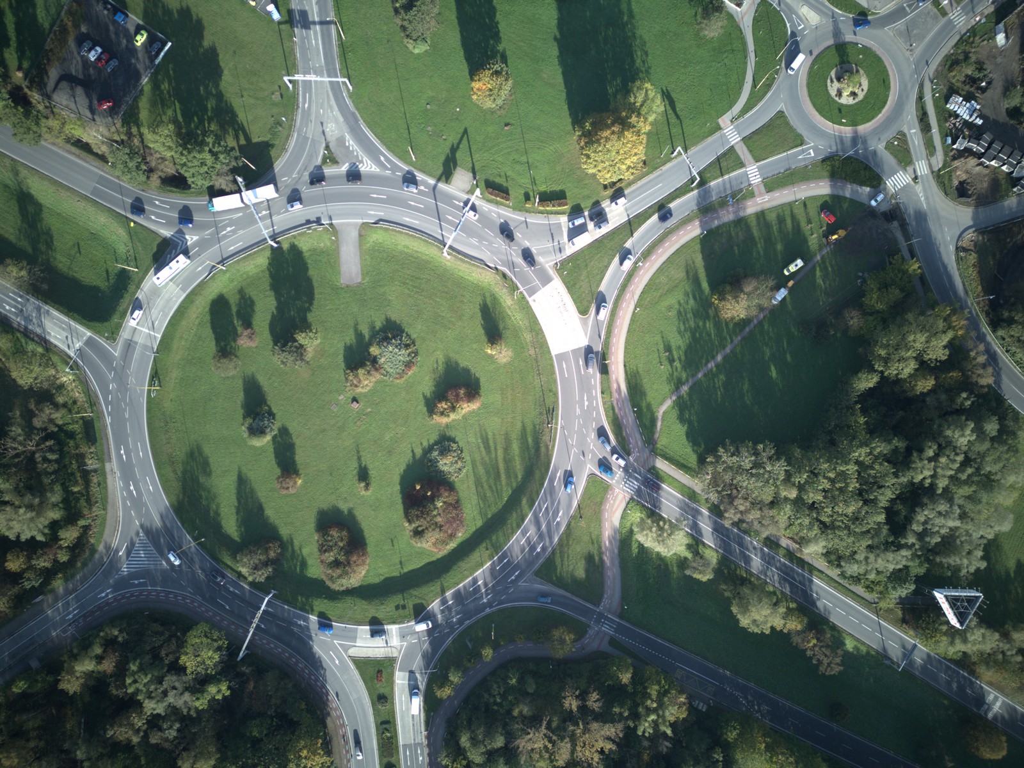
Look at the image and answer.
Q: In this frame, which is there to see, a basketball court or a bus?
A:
bus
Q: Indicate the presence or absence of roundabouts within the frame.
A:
Yes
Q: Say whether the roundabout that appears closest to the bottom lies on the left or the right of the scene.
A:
left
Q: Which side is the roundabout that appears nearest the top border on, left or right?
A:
right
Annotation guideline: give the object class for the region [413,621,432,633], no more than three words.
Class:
vehicle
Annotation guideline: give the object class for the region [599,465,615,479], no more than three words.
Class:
car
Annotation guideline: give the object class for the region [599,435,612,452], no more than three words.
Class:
vehicle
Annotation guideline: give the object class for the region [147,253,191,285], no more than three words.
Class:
bus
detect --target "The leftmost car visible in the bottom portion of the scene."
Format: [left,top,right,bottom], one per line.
[166,550,179,565]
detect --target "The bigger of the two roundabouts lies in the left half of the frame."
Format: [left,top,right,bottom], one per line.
[101,171,601,659]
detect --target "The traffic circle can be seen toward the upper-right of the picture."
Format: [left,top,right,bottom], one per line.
[780,11,917,155]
